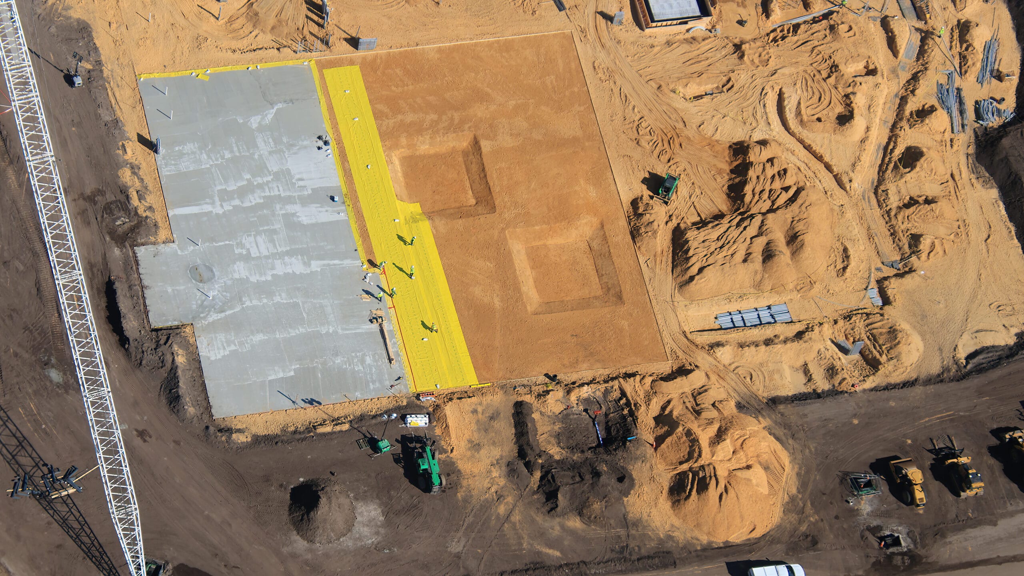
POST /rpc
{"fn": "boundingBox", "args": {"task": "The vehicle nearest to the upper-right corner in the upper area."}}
[649,163,682,209]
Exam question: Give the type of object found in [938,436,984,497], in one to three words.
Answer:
work vehicle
